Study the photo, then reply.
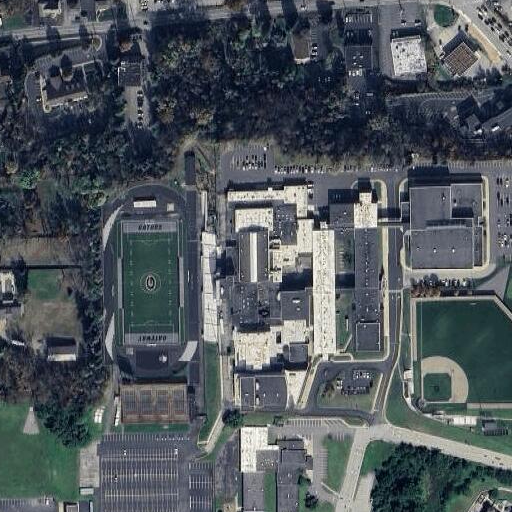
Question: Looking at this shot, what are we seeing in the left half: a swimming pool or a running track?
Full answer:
Looking in the left half, you will find a running track.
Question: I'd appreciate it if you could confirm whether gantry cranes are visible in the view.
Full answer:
No, no gantry crane is visible in the scene.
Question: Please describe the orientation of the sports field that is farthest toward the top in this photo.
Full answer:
From this overhead view, the sports field that is farthest toward the top appears to run vertically.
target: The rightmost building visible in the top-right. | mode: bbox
[466,102,512,150]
